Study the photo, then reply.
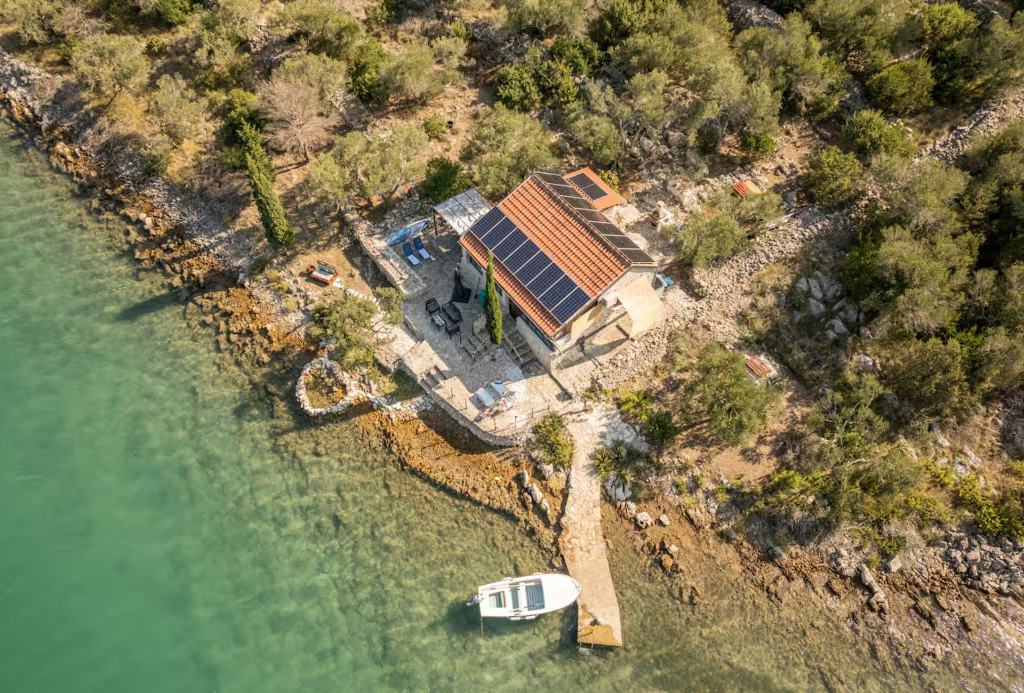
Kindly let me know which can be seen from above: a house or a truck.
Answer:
house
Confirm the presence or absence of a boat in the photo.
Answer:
Yes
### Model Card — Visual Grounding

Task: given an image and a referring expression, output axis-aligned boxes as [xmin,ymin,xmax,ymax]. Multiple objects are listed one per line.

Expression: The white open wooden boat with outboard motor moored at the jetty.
[478,568,582,626]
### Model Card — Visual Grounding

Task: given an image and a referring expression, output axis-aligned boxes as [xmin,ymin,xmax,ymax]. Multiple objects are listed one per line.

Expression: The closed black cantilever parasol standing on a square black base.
[451,260,473,303]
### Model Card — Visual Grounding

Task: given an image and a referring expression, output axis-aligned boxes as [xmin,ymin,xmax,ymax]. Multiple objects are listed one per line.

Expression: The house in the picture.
[457,165,657,370]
